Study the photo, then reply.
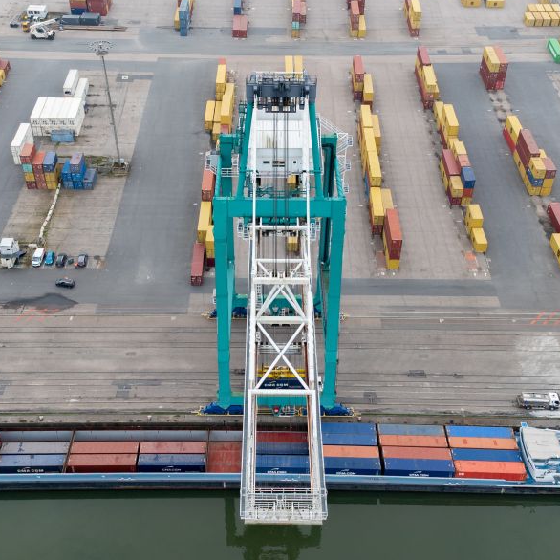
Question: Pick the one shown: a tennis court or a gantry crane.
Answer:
gantry crane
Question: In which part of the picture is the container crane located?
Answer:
center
